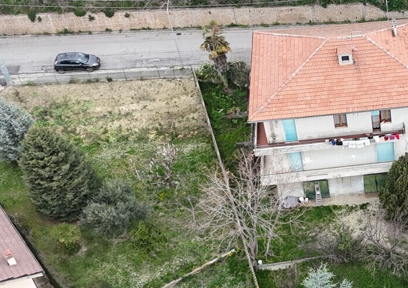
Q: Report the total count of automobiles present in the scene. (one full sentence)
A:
The count comes to 1 automobile.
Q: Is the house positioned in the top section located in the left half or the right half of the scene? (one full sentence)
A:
The house positioned in the top section sits on the right side.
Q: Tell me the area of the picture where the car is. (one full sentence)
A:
Look in the top left portion of the view to spot the car.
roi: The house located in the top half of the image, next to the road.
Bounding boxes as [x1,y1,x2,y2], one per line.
[247,18,408,197]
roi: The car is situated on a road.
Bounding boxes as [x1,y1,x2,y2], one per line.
[52,48,101,71]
